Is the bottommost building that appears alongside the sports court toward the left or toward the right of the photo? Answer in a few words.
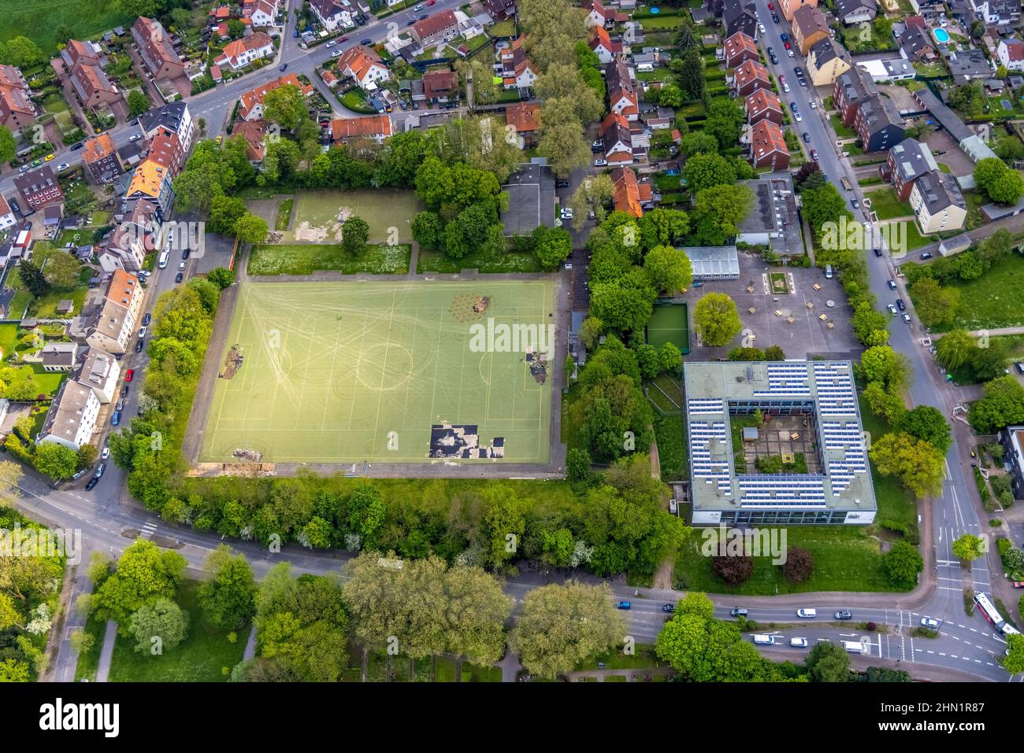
right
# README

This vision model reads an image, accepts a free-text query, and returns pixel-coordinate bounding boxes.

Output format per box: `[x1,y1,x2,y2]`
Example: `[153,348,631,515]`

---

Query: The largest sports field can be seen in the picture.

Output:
[198,206,555,465]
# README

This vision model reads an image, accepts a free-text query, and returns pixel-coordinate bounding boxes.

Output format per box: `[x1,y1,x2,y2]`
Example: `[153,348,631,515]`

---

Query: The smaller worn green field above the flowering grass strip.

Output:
[288,190,429,242]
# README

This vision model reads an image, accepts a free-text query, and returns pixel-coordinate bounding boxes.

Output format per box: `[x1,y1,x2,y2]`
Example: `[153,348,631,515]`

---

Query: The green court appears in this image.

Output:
[646,300,692,352]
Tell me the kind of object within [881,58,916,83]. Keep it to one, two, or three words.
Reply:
building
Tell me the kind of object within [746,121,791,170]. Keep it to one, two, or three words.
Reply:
house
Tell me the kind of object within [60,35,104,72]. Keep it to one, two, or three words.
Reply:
house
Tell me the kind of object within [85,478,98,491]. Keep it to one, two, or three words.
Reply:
vehicle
